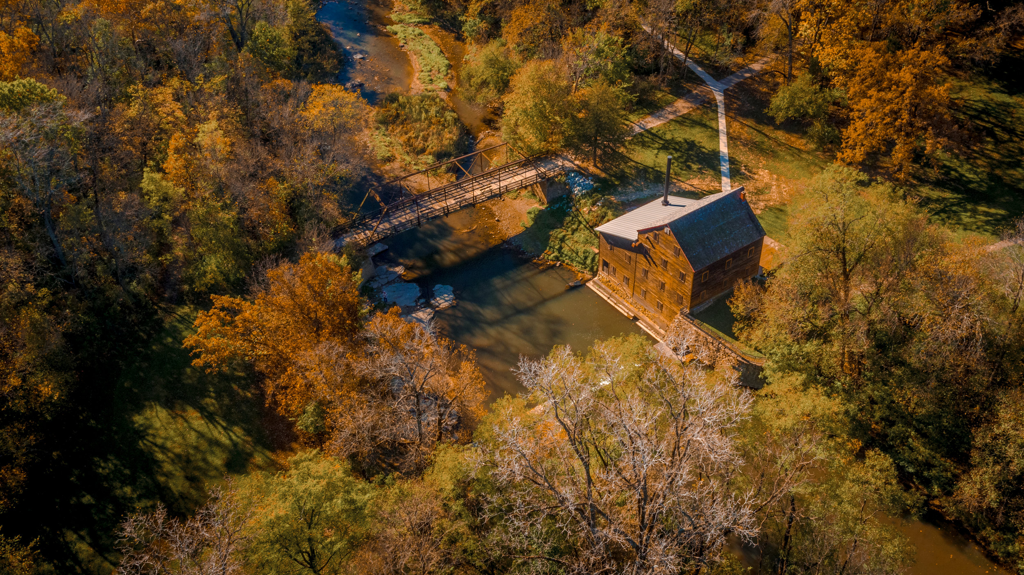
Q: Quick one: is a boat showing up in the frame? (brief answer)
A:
No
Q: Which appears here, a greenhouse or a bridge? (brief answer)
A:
bridge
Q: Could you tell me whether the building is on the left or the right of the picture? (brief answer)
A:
right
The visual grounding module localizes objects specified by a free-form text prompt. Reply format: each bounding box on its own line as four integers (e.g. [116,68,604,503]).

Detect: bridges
[322,142,572,242]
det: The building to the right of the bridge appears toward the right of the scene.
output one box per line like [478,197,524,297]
[596,197,769,343]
